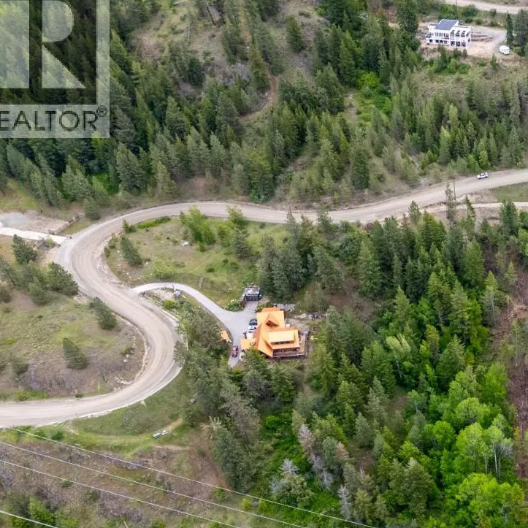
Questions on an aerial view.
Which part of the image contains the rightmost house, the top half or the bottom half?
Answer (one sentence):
The rightmost house is in the top half of the image.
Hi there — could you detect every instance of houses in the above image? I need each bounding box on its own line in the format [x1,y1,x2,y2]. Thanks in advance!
[241,303,307,364]
[428,19,471,49]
